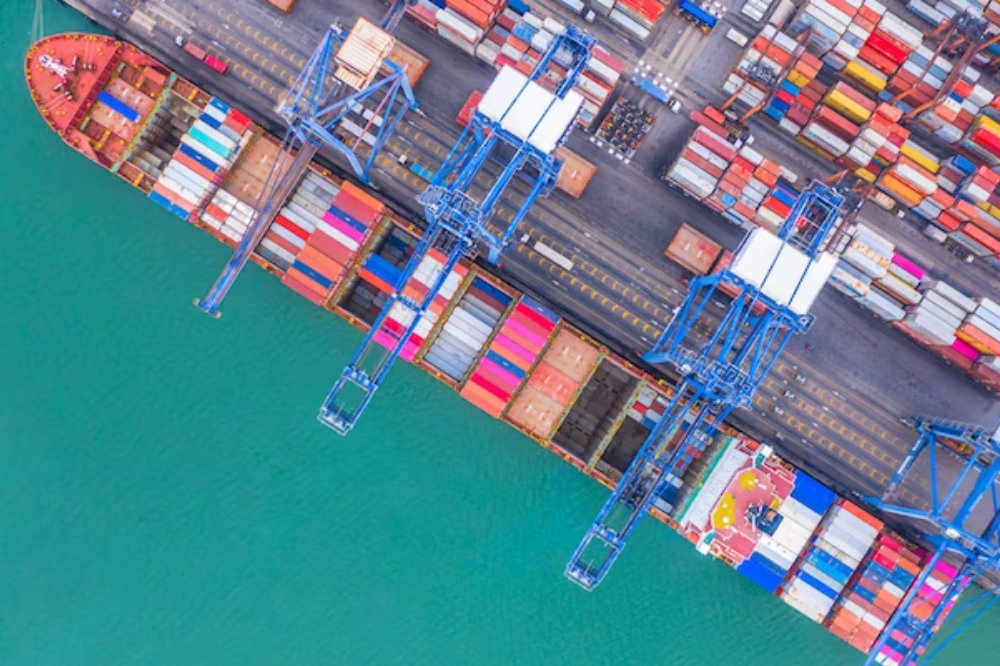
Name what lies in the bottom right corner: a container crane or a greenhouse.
container crane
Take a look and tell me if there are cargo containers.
Yes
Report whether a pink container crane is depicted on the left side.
No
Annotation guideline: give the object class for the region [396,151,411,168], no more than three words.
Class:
vehicle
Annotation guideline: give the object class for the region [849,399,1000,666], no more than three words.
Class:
container crane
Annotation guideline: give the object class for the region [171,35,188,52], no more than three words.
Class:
vehicle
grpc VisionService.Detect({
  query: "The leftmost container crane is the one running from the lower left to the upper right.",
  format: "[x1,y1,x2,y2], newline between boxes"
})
[191,0,433,324]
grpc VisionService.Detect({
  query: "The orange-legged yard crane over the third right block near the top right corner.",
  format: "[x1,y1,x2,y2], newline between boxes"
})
[890,8,991,125]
